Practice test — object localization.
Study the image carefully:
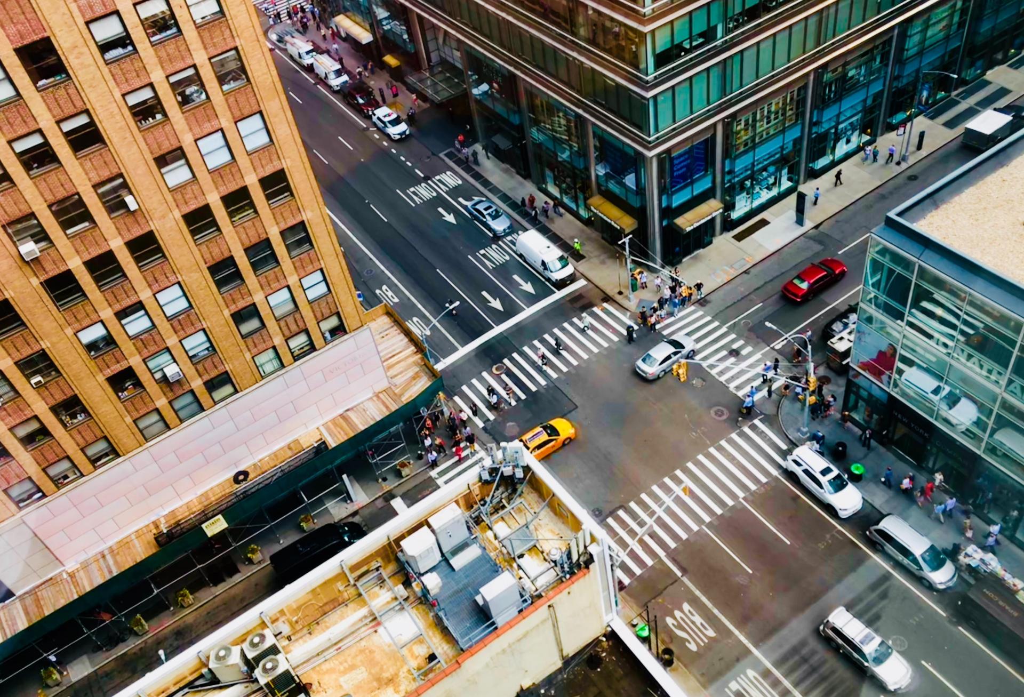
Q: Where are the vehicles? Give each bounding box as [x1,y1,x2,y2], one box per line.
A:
[827,299,858,334]
[1008,104,1024,128]
[343,78,379,111]
[789,445,868,514]
[371,104,409,137]
[469,197,514,234]
[975,580,1024,659]
[637,330,700,378]
[958,107,1023,160]
[829,611,921,697]
[785,254,848,299]
[283,31,318,66]
[309,49,349,87]
[264,515,366,585]
[514,222,575,281]
[872,509,964,590]
[525,419,577,460]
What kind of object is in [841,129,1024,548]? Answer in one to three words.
building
